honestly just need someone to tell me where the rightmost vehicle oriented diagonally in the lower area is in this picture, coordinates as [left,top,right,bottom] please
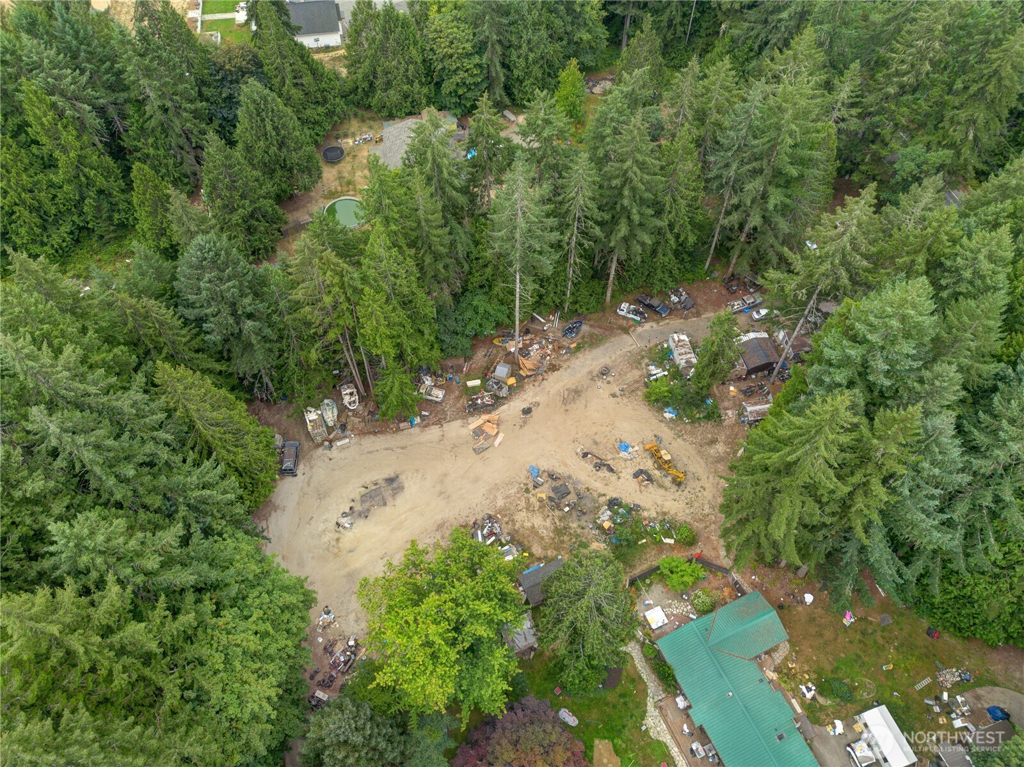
[639,441,693,490]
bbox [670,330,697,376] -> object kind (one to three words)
trailer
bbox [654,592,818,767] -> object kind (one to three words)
building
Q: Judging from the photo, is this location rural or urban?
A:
rural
